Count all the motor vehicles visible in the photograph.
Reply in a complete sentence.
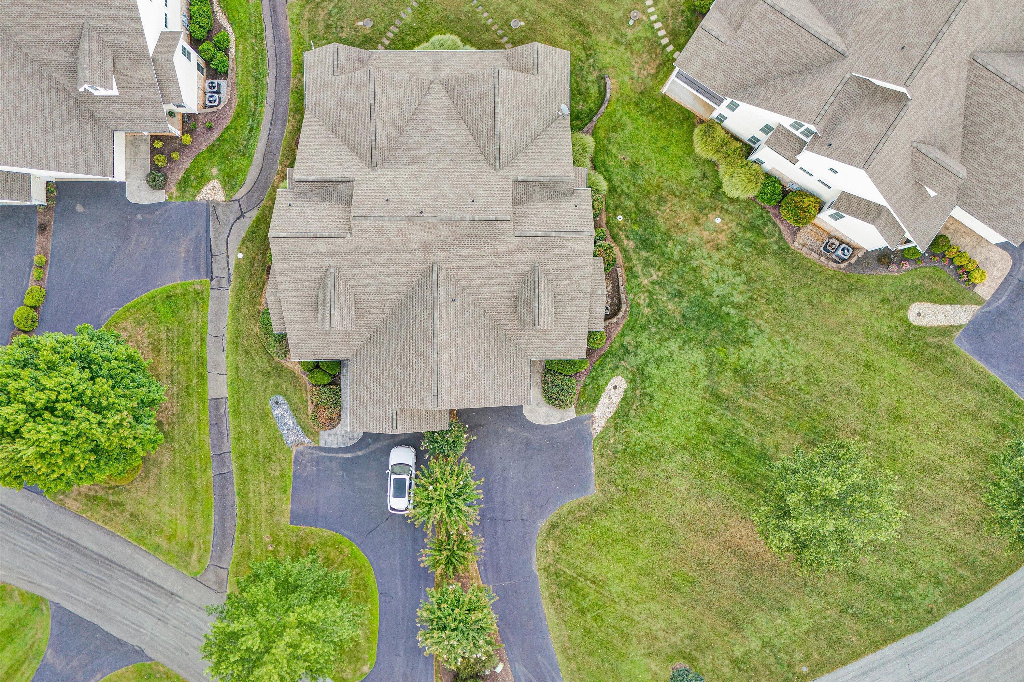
Altogether the scene contains 1 motor vehicle.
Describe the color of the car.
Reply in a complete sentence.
The car is white.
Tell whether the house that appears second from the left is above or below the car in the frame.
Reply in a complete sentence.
As seen from overhead, the house that appears second from the left falls above the car in the picture.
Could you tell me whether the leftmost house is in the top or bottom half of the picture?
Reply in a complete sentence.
You can find the leftmost house in the top half.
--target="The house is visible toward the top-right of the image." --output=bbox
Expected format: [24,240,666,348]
[662,0,1024,257]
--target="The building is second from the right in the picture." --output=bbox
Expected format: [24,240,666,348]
[267,42,607,435]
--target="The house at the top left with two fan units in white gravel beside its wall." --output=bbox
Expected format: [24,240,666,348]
[0,0,197,211]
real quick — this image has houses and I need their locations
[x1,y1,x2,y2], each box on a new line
[662,0,1024,257]
[0,0,197,211]
[267,42,607,435]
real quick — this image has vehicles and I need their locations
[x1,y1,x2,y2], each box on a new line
[385,445,419,514]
